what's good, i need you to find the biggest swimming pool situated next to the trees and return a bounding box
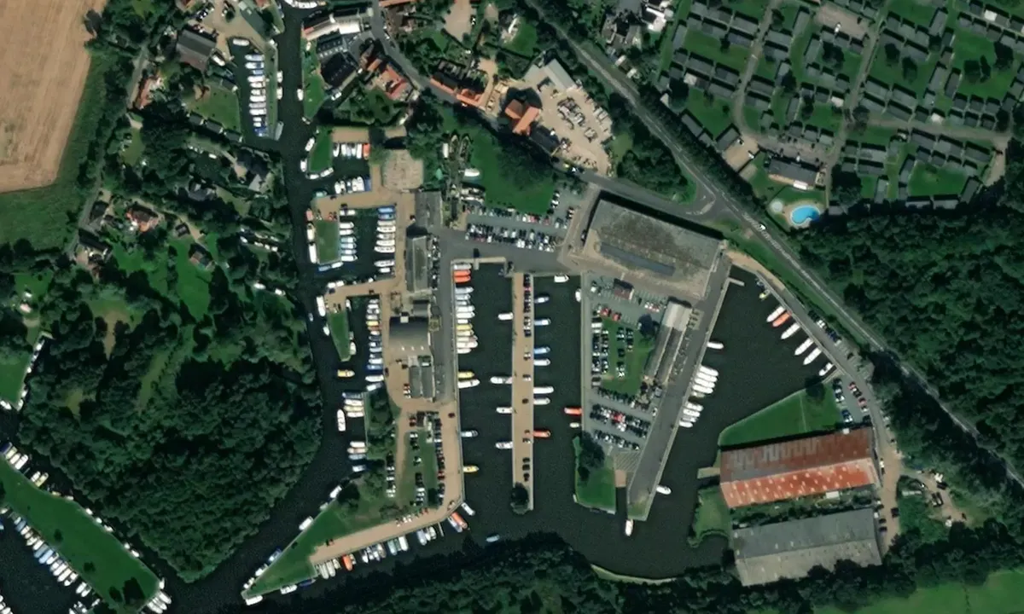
[784,200,824,232]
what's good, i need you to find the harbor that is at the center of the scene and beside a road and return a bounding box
[7,51,841,601]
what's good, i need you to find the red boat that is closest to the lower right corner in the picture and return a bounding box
[774,310,793,325]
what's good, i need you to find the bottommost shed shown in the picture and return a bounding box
[731,508,882,587]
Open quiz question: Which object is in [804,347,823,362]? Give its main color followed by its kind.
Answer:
white boat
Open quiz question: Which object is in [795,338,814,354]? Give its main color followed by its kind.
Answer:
white boat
